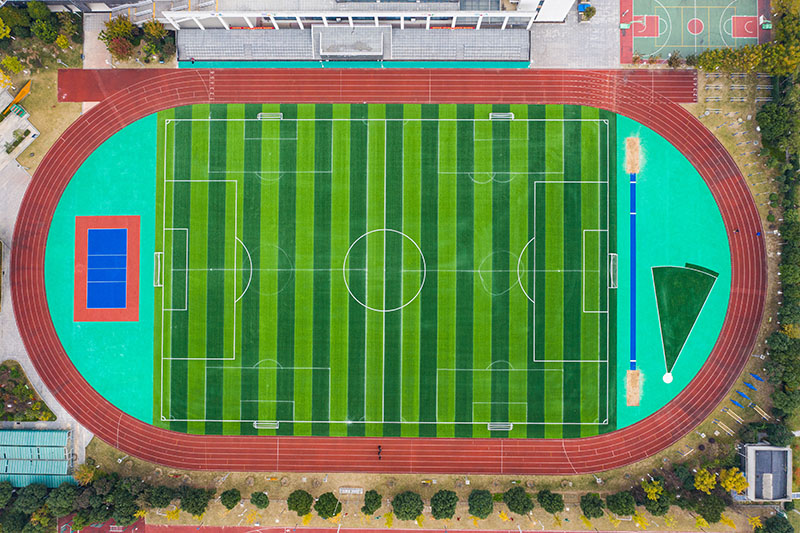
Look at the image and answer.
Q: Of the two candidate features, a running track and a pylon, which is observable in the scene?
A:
running track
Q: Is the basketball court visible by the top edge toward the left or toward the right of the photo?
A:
right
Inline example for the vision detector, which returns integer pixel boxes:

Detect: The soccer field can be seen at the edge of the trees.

[152,105,617,439]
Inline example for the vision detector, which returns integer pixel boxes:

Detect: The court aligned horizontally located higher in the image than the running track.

[620,0,771,63]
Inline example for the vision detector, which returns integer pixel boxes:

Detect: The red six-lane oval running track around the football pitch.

[8,69,769,477]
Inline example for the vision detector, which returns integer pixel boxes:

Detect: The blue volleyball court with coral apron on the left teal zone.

[74,216,140,322]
